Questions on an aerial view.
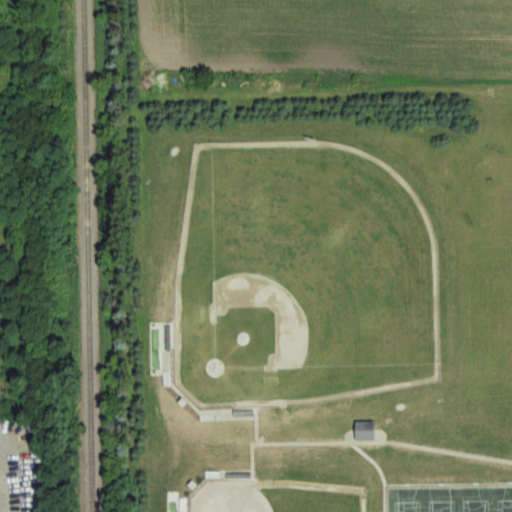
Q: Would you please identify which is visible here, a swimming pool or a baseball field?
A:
baseball field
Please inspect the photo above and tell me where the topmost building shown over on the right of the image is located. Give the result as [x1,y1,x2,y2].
[356,421,374,441]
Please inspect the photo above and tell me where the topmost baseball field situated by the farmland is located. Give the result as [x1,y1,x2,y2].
[175,141,440,407]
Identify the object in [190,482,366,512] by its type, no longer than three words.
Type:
baseball field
